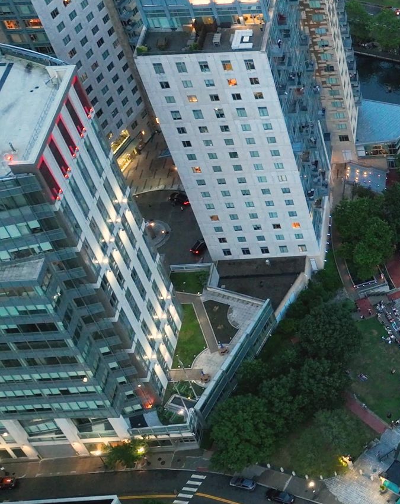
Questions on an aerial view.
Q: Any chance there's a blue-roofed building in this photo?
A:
Yes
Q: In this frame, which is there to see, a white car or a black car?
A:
black car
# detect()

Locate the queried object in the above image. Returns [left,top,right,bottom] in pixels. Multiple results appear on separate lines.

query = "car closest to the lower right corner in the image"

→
[262,485,297,504]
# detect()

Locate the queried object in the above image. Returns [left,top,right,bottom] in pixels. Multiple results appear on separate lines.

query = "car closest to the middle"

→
[184,235,209,256]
